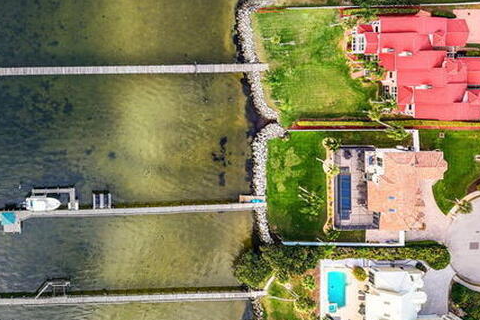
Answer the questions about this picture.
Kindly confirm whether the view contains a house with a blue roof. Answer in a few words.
No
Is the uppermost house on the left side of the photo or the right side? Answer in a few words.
right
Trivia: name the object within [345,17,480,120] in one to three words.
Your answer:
house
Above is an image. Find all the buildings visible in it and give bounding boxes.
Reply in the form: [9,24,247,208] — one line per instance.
[345,17,480,120]
[358,267,463,320]
[360,149,450,231]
